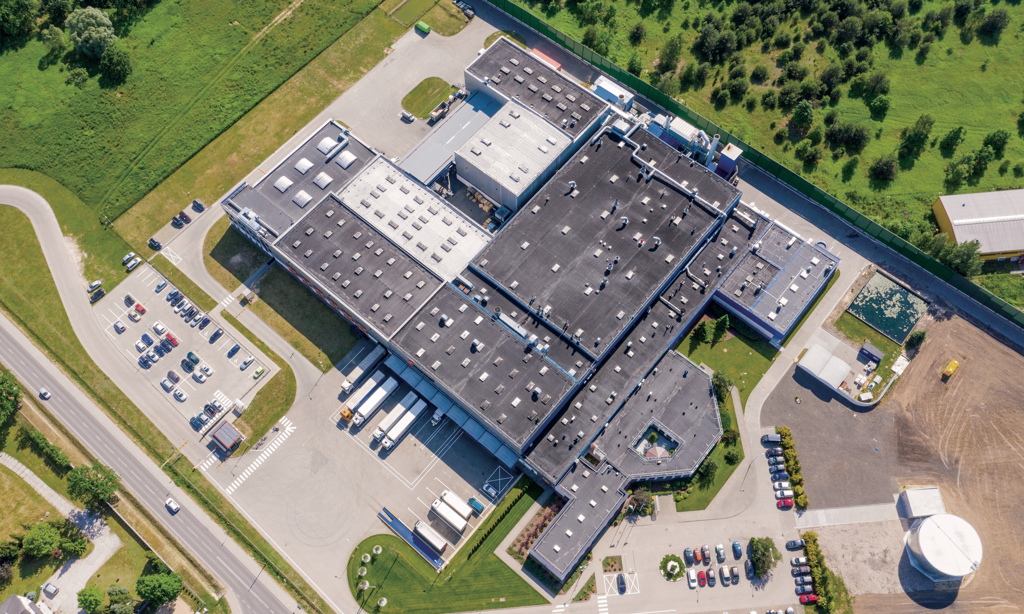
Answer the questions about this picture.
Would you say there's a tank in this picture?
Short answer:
Yes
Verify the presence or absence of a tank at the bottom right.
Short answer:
Yes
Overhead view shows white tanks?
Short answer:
Yes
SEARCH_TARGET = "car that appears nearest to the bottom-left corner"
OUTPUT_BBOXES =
[43,582,60,596]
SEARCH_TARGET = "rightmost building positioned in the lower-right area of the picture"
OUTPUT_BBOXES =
[900,487,947,520]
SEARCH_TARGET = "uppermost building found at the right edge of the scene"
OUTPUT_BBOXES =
[932,189,1024,261]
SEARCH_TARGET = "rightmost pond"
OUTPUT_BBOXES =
[848,271,929,344]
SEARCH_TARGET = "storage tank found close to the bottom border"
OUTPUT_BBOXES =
[905,513,983,585]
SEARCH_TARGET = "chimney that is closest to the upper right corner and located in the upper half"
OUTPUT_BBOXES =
[706,134,720,165]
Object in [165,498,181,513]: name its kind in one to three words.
car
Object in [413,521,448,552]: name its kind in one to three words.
truck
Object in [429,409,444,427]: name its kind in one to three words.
vehicle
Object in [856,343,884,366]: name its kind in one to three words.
building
